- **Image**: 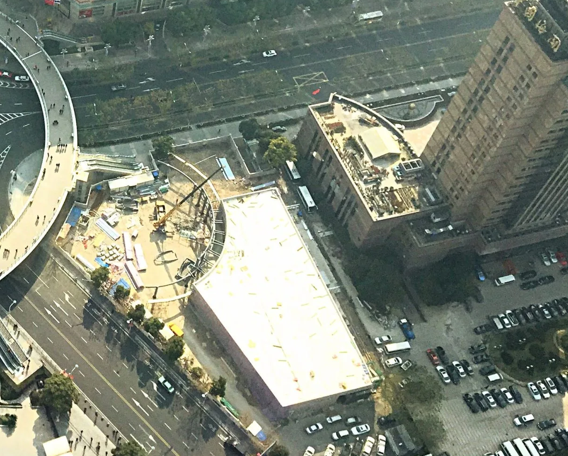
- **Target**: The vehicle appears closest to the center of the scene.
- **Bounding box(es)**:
[295,189,316,215]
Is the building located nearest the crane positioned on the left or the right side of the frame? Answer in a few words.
left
